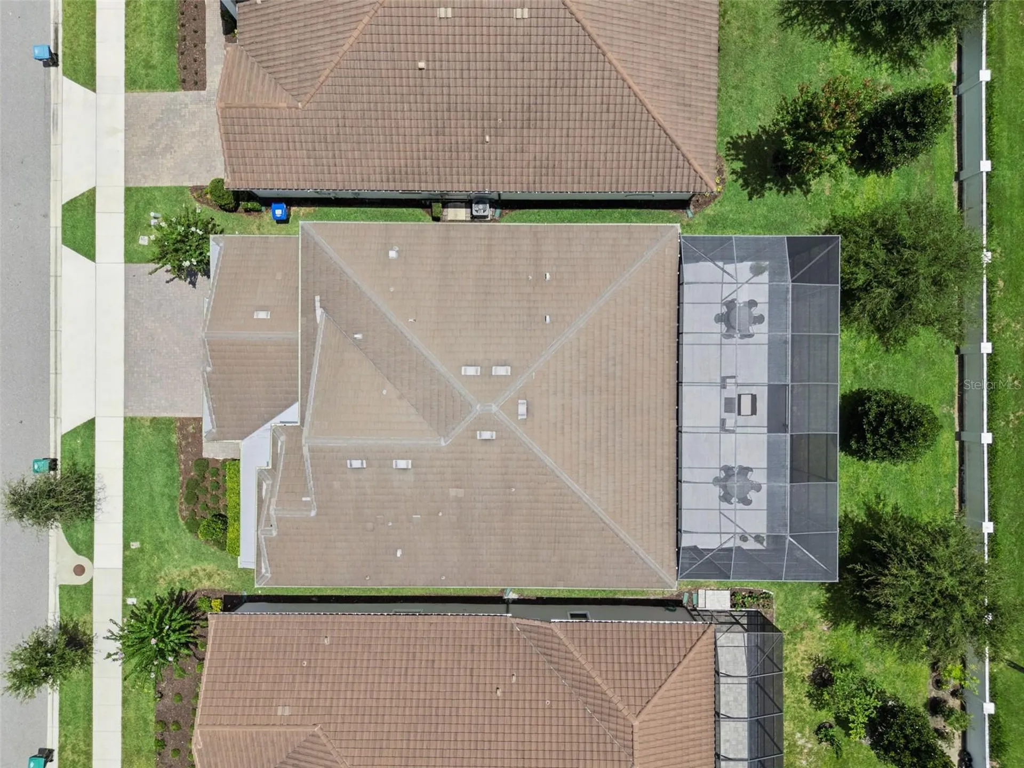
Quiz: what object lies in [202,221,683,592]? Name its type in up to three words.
house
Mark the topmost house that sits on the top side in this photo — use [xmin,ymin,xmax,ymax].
[215,0,720,202]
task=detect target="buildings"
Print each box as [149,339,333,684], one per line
[215,0,720,202]
[191,600,718,768]
[202,221,683,592]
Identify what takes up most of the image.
buildings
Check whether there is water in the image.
No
